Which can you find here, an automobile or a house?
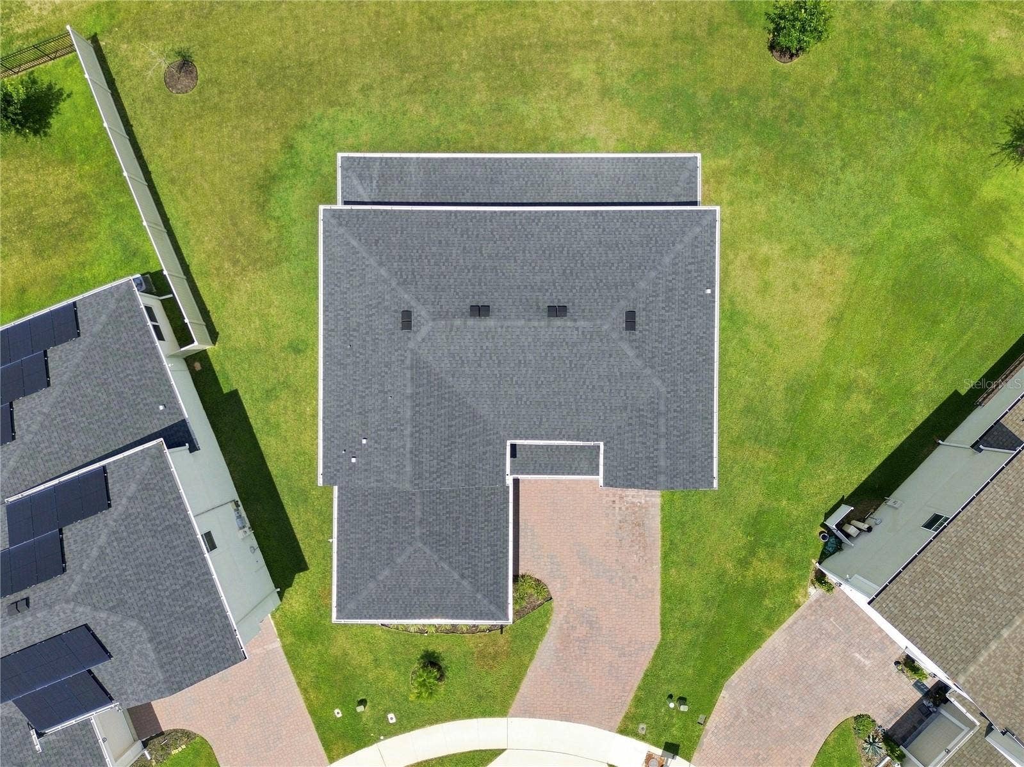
house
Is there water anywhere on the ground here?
No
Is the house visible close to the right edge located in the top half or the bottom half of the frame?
bottom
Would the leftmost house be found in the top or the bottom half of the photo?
bottom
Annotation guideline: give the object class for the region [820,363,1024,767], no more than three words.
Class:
house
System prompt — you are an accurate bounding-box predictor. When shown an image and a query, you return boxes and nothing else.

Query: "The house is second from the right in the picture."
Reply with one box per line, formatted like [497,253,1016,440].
[320,153,719,622]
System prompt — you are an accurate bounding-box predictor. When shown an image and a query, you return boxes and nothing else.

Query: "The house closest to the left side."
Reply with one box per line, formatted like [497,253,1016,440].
[0,277,285,767]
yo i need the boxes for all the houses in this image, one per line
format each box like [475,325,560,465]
[0,277,285,767]
[820,363,1024,767]
[320,153,719,622]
